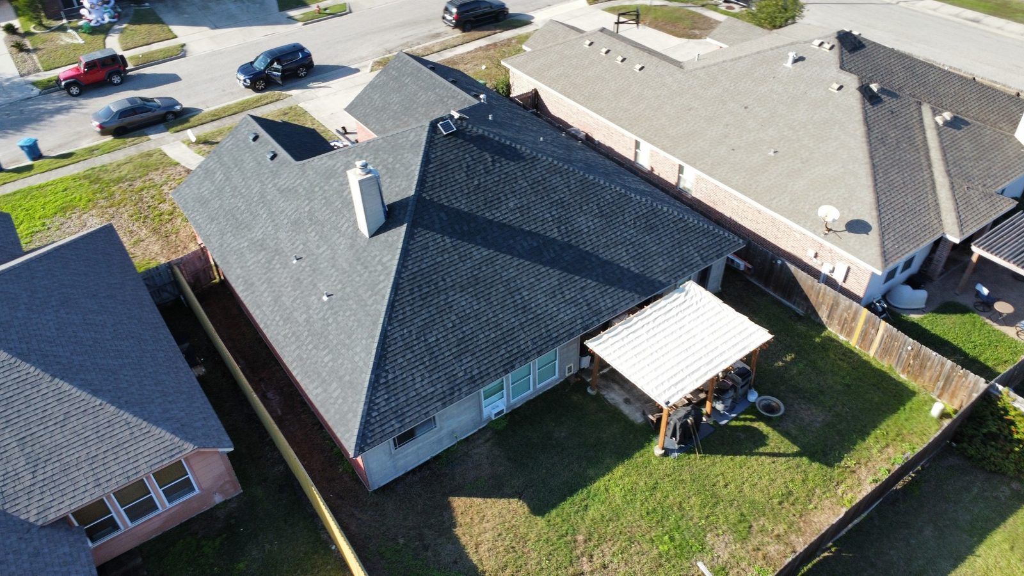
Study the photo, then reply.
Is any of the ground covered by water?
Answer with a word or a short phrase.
No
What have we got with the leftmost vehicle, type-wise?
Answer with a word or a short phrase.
automobile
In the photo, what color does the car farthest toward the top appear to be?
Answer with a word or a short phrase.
black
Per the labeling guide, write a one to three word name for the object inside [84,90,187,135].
car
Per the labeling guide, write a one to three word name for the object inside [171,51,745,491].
house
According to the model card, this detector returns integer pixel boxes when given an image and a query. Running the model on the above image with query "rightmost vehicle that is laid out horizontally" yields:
[442,0,515,32]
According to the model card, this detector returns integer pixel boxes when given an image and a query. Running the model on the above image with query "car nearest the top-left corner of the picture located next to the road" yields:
[51,44,129,95]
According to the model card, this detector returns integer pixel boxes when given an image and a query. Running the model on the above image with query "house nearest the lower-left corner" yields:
[0,212,245,576]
